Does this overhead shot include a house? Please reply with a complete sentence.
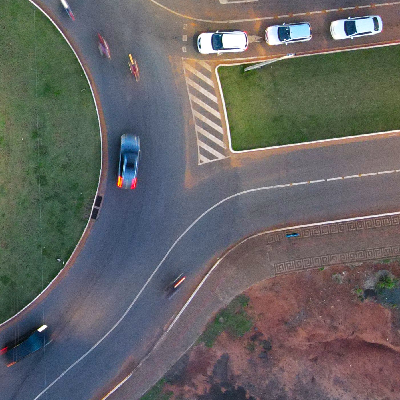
No, there's no house here.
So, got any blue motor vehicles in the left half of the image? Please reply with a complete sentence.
Yes, there is a blue motor vehicle in the left half of the image.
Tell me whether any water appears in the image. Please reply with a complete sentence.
No, the picture contains no water.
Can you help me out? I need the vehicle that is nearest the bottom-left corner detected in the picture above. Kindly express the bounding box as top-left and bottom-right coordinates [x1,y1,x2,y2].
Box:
[0,323,49,365]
